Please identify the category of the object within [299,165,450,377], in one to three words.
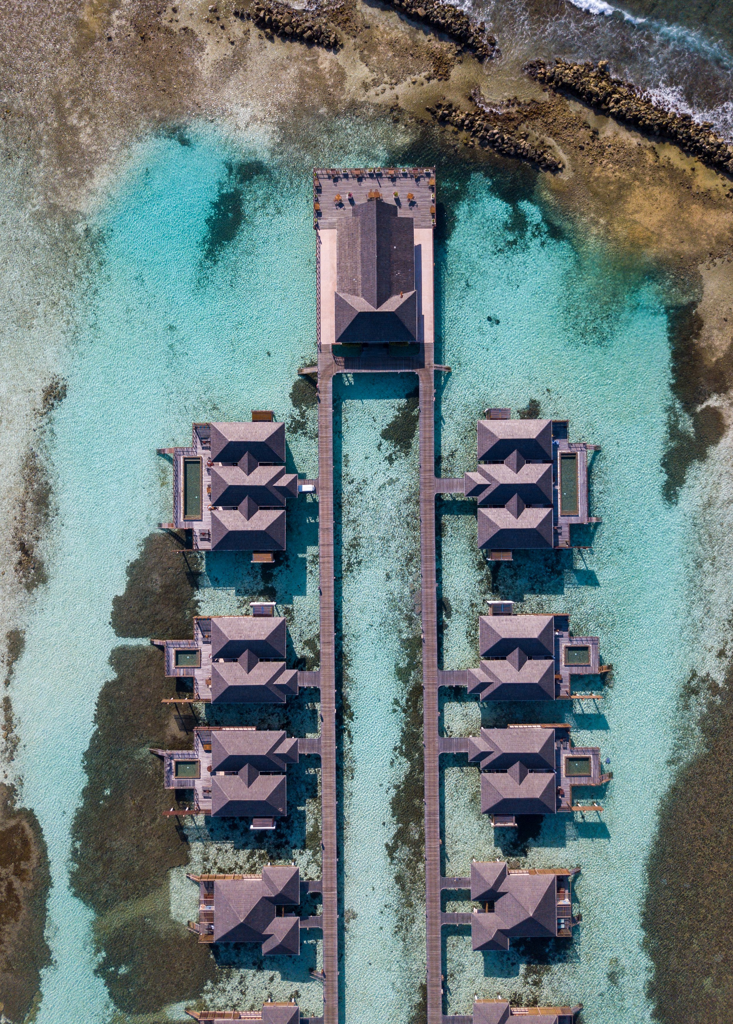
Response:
building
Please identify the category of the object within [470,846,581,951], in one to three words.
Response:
house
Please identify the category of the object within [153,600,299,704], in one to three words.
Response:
house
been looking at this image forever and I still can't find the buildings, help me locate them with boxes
[470,846,581,951]
[467,722,611,825]
[299,165,450,377]
[151,724,299,829]
[473,982,582,1024]
[159,409,299,563]
[187,985,300,1024]
[153,600,299,704]
[466,599,610,702]
[187,851,300,956]
[463,408,599,561]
